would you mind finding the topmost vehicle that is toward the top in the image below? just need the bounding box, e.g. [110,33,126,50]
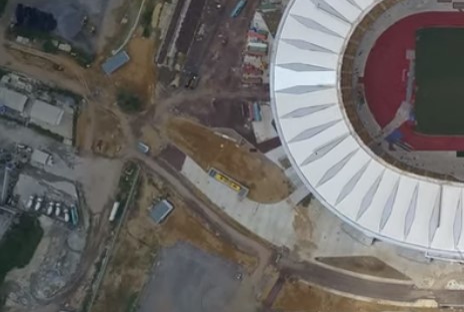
[232,0,245,17]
